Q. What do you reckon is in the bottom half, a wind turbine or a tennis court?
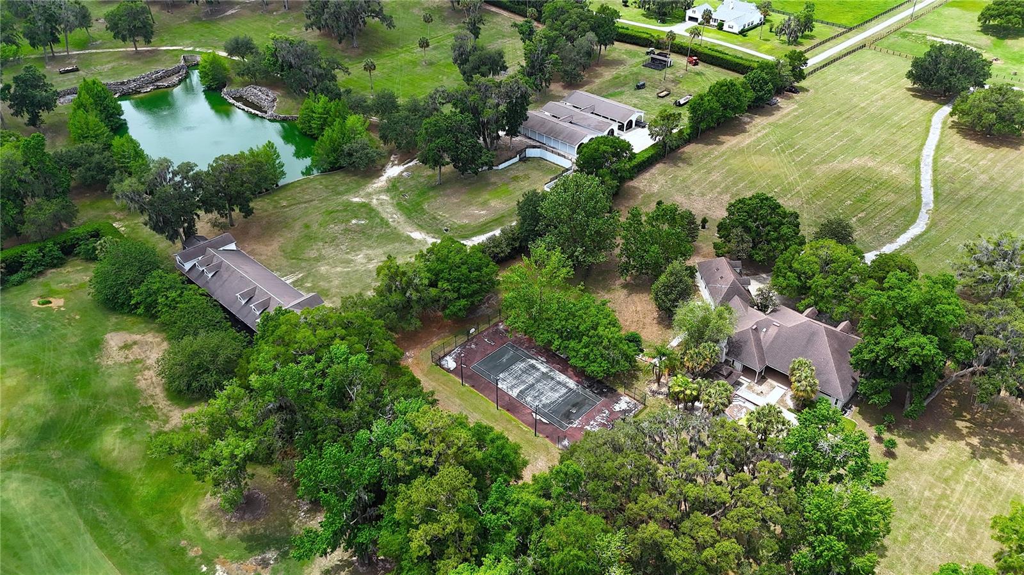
tennis court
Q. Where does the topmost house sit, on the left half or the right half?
right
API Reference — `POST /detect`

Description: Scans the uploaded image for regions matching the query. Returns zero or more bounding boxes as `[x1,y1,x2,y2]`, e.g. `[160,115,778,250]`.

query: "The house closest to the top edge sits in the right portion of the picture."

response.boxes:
[686,5,778,34]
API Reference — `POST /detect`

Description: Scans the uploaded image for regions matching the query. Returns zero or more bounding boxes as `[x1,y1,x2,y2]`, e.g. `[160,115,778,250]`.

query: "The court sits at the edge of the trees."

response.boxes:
[434,322,644,462]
